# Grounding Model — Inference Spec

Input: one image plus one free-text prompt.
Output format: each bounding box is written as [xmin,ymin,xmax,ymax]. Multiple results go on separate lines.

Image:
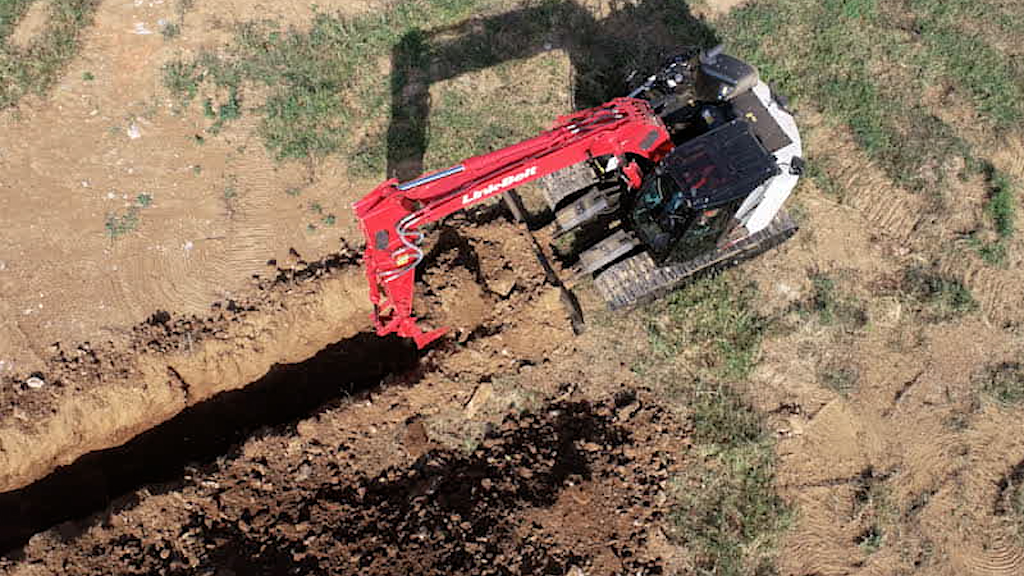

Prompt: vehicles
[347,41,810,349]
